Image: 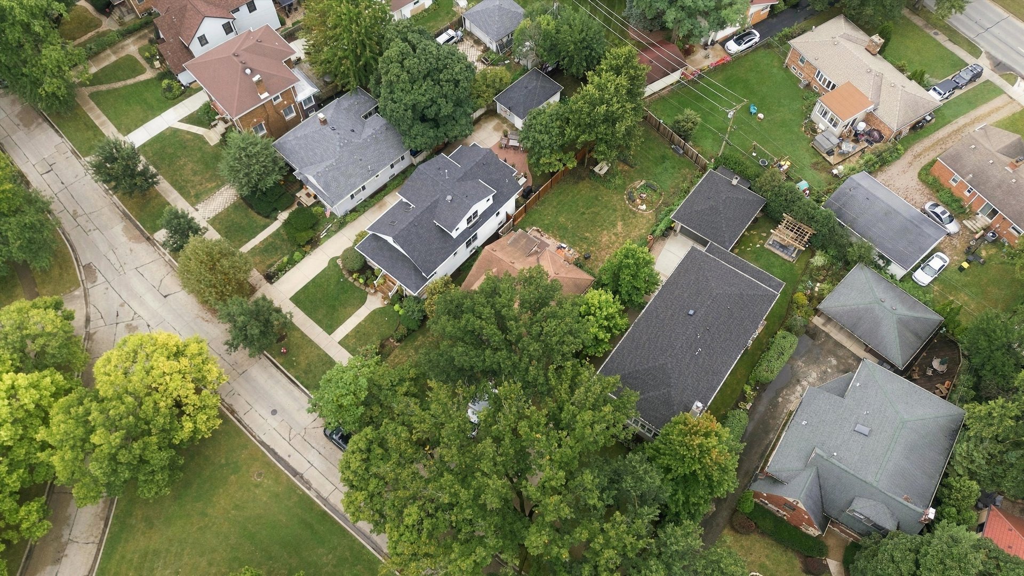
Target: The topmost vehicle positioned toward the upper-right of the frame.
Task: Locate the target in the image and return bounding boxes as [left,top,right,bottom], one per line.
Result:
[726,28,764,57]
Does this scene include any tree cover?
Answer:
Yes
